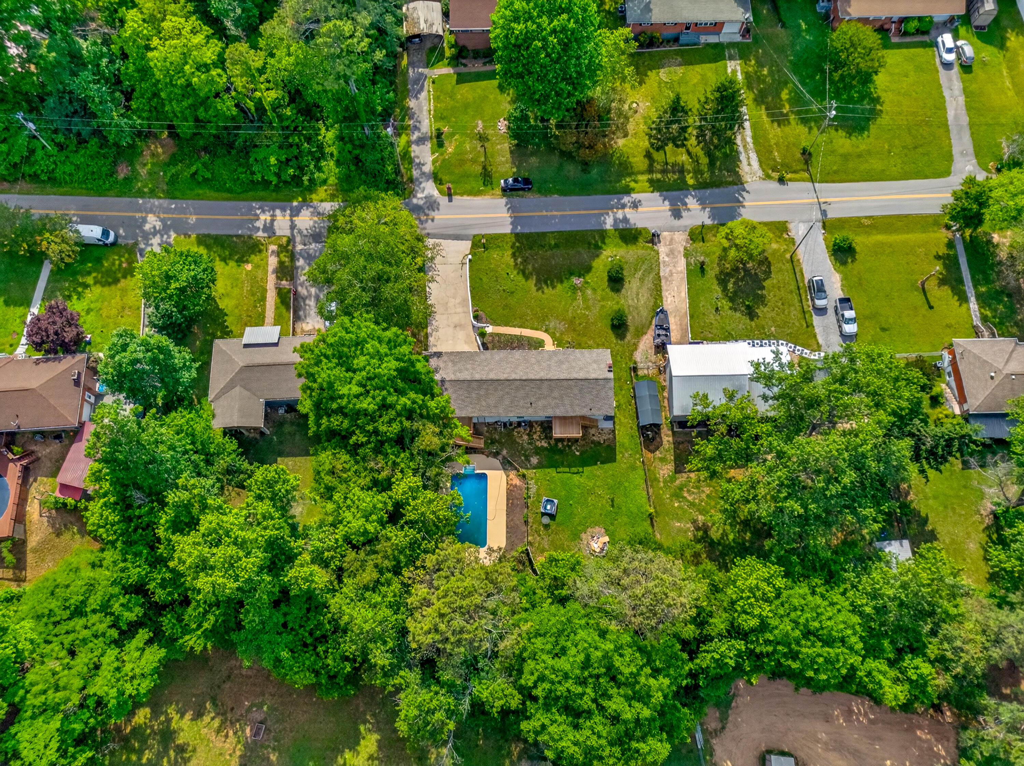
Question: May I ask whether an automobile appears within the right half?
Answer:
Yes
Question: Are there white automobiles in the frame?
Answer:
Yes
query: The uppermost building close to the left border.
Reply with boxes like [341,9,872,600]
[0,350,96,436]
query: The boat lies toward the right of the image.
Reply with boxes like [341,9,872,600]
[653,306,672,352]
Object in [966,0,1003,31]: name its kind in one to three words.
shed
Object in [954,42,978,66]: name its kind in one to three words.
car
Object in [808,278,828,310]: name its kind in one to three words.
car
